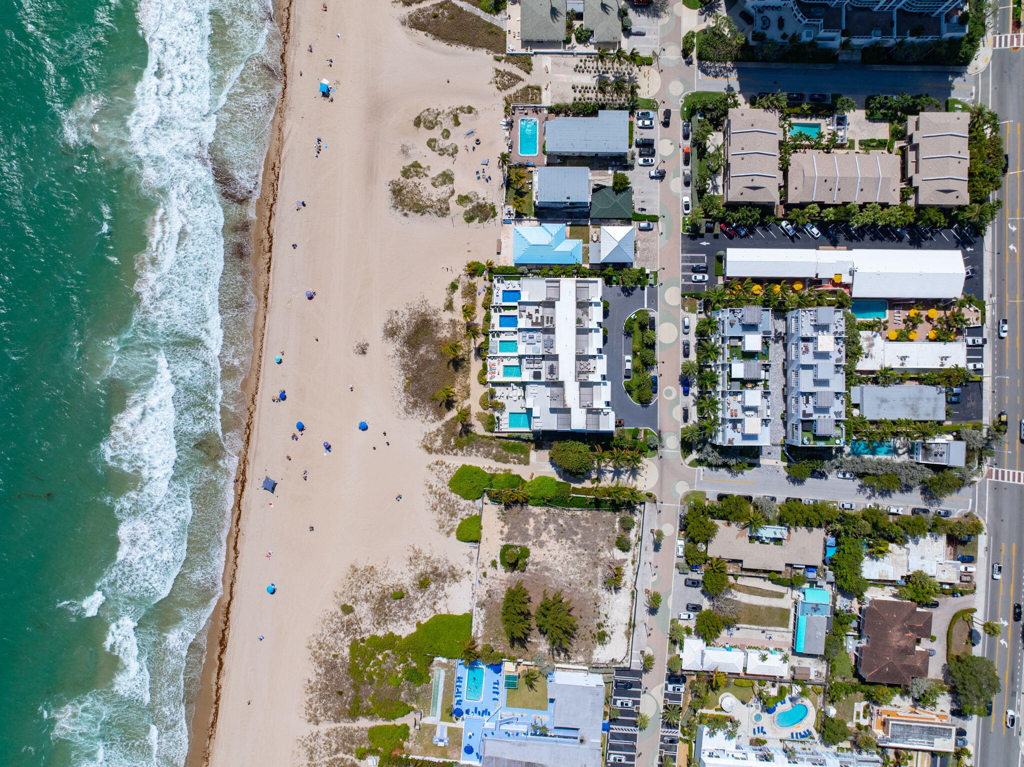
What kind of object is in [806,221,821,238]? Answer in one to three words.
car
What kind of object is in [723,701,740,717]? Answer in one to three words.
gazebo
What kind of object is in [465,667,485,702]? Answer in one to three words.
swimming pool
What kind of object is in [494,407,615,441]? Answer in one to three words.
house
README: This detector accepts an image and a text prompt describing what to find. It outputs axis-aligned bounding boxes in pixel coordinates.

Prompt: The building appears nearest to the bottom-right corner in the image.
[866,702,956,753]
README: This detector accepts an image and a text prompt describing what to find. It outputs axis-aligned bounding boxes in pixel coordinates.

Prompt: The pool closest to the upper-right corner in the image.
[787,121,823,140]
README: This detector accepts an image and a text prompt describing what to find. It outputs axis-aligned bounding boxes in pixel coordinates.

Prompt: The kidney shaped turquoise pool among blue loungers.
[774,702,810,730]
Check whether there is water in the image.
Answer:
Yes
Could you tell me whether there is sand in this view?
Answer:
Yes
